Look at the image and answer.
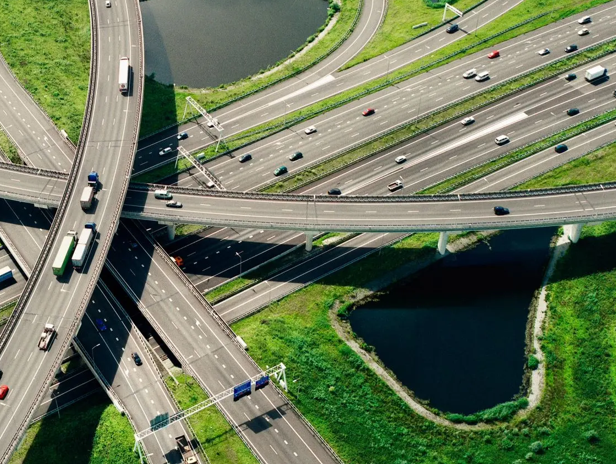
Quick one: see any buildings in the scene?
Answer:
No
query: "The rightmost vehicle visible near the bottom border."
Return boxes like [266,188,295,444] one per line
[175,431,200,464]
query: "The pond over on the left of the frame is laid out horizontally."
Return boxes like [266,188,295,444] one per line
[140,0,330,88]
